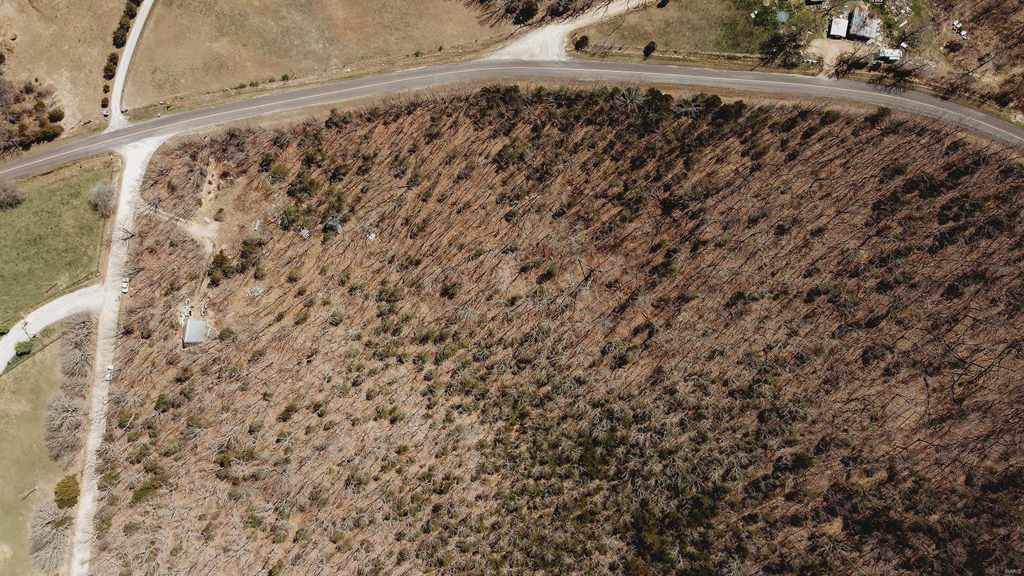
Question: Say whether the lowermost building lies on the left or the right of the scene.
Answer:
left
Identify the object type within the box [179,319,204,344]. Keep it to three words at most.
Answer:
building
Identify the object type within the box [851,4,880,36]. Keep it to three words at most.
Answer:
house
